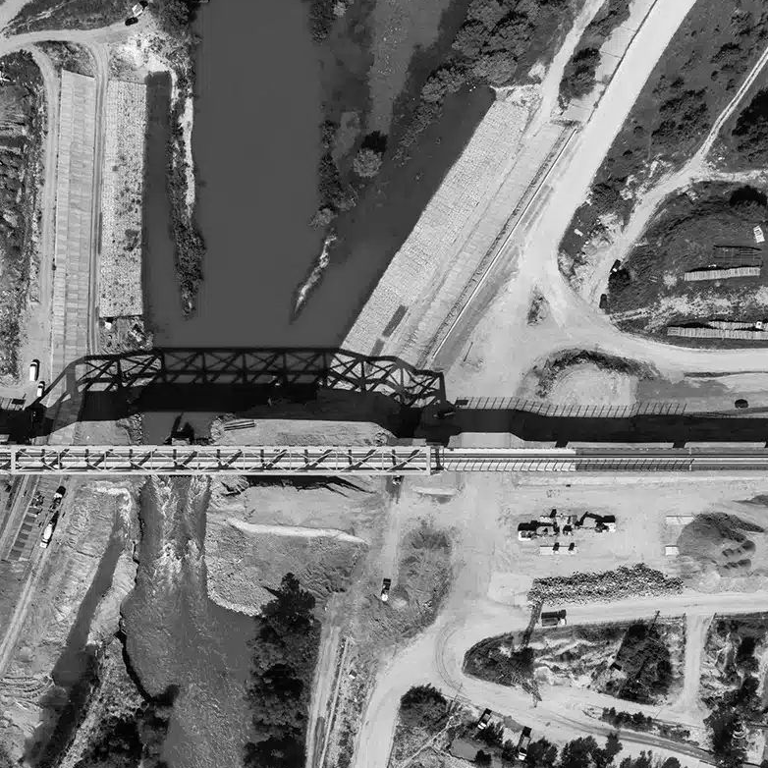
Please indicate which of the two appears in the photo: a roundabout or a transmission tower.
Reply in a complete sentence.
The image shows a transmission tower.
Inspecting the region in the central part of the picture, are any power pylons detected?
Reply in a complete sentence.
No, I see no power pylon in the central part of the picture.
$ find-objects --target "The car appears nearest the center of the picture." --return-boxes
[389,474,404,488]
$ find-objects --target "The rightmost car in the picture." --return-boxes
[733,397,750,411]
